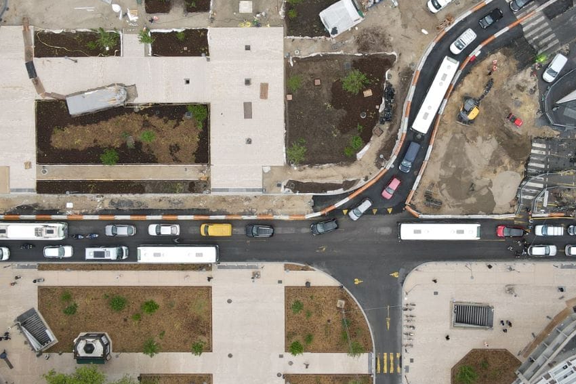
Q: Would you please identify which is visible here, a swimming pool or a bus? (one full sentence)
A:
The one in the frame is a bus.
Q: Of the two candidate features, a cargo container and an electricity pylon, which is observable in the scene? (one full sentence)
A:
The one in the frame is a cargo container.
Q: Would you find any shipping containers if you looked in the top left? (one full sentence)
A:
Yes, a shipping container can be seen in the top left.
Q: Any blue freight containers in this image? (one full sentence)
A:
No, the scene contains no blue freight container.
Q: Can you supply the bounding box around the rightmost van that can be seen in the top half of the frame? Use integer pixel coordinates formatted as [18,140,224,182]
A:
[541,53,570,83]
